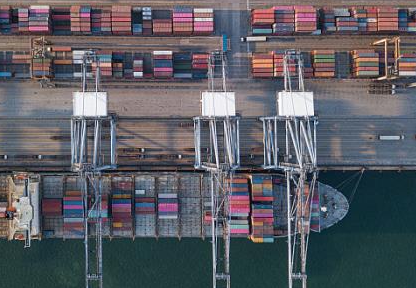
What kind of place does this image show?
port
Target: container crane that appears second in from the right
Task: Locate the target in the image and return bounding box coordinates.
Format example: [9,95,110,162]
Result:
[264,51,321,288]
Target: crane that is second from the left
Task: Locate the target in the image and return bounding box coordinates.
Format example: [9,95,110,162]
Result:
[70,51,120,288]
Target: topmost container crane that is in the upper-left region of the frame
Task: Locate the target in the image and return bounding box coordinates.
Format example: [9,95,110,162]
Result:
[30,38,58,83]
